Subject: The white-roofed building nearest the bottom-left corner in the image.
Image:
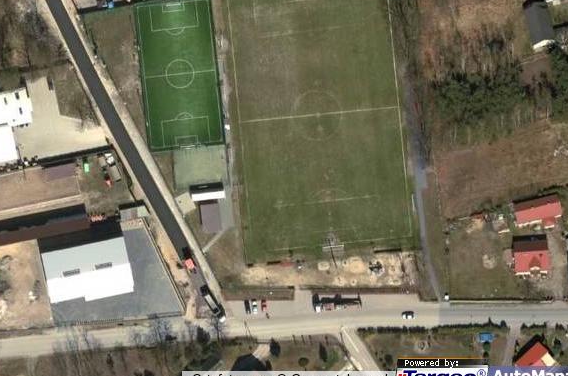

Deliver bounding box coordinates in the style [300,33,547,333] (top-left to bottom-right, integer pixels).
[40,237,133,305]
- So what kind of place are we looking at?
sports ground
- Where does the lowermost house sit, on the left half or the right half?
right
